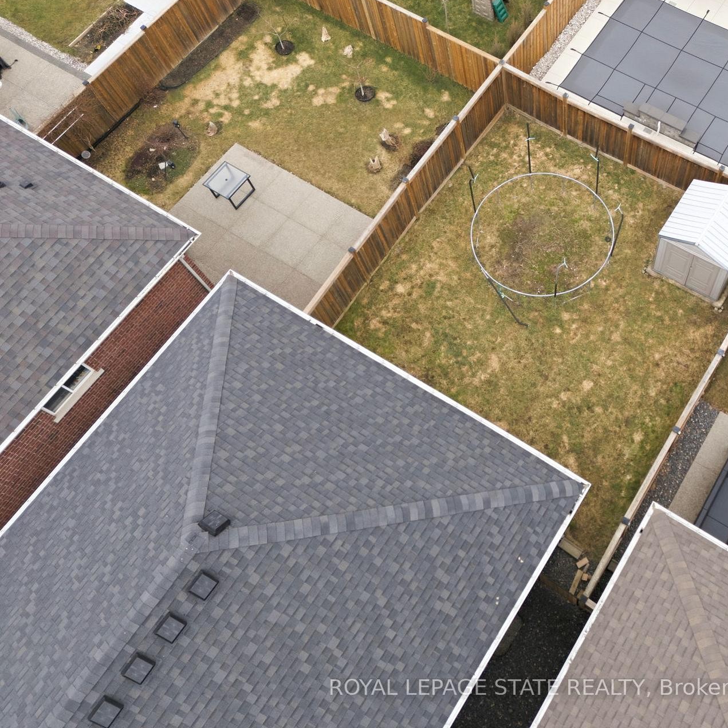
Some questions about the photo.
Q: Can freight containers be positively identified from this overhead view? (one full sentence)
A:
No, I can see no freight container in this picture.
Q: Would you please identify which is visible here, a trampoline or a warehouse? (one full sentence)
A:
The image shows a trampoline.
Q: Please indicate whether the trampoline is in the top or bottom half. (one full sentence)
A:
It is in the top half that the trampoline appears.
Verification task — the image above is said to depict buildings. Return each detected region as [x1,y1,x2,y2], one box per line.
[529,501,728,728]
[654,178,728,301]
[0,271,588,728]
